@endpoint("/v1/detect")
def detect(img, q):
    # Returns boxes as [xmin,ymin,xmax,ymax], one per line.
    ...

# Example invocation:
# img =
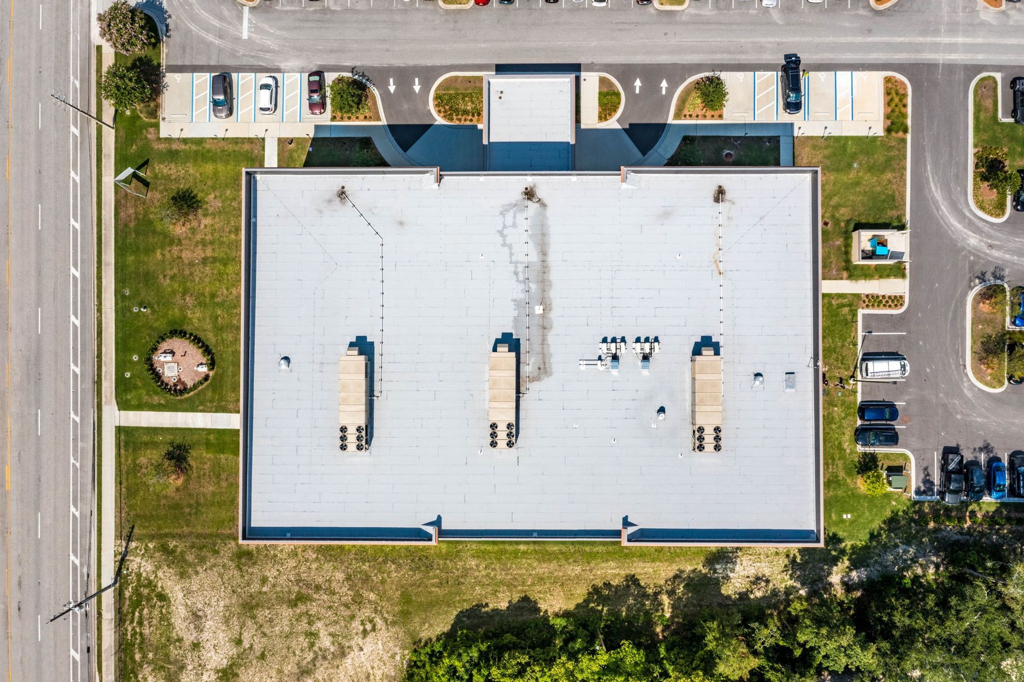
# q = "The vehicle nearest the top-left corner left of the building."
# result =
[210,74,232,118]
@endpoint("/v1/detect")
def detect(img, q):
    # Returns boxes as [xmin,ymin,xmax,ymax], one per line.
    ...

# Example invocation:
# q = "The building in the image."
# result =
[239,75,823,547]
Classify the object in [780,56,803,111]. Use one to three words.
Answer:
car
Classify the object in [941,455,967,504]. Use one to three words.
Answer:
truck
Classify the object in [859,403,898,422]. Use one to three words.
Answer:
car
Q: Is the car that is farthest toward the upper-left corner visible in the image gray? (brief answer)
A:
Yes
